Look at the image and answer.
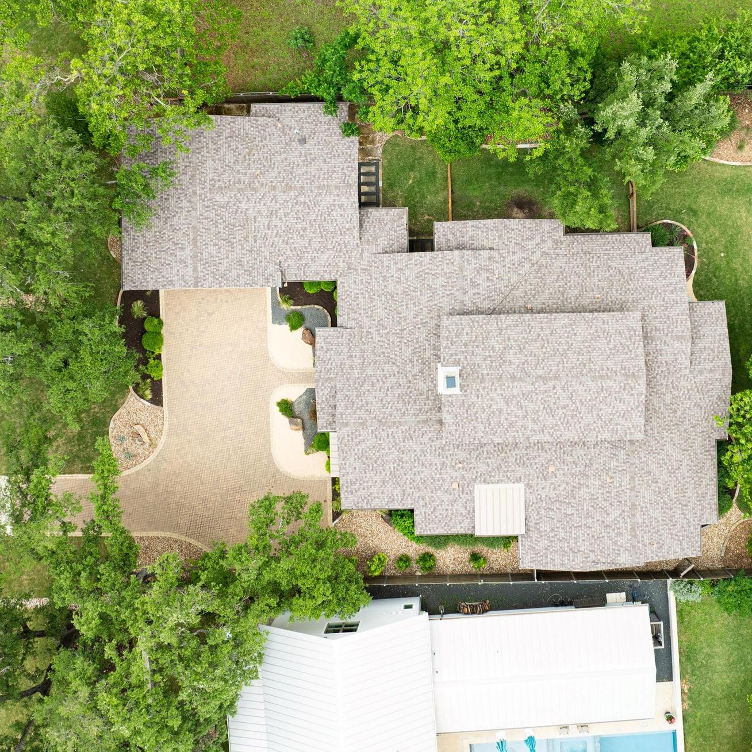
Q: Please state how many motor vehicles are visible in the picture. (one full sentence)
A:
Not a single motor vehicle can be seen.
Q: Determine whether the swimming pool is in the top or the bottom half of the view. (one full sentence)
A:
The swimming pool sits in the bottom half of the picture.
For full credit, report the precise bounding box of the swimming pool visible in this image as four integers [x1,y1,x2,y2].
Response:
[469,731,672,752]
